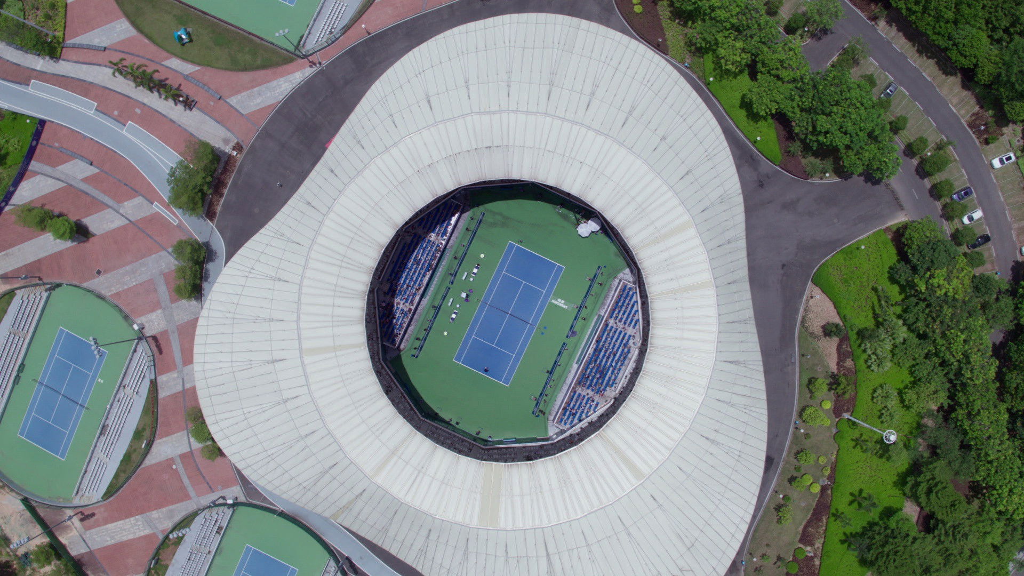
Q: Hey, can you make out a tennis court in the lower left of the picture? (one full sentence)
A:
Yes, a tennis court shows up in the lower left of the picture.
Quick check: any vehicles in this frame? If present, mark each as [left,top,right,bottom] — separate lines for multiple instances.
[878,80,901,100]
[990,151,1016,169]
[950,185,975,200]
[960,208,985,224]
[967,233,992,250]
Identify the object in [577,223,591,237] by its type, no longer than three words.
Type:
umbrella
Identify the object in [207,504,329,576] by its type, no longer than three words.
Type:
tennis court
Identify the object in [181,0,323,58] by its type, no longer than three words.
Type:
tennis court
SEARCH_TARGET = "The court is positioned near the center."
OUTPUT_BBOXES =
[381,185,631,440]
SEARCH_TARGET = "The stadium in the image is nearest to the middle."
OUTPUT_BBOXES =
[193,13,768,576]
